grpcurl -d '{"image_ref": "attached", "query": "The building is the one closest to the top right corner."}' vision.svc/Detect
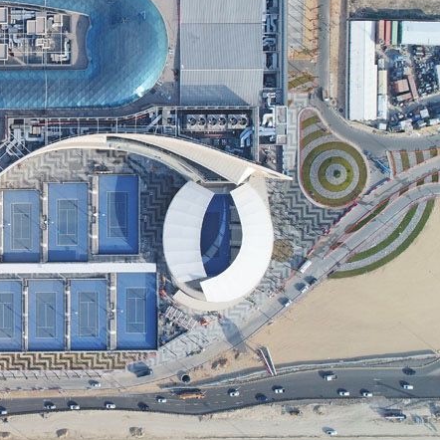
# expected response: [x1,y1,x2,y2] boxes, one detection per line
[398,21,440,45]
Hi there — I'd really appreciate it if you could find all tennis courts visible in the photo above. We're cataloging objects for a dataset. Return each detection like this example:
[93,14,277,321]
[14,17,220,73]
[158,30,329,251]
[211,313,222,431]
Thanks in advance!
[66,278,110,353]
[0,189,41,262]
[95,173,141,255]
[114,271,160,353]
[0,278,24,352]
[44,181,89,262]
[24,278,67,353]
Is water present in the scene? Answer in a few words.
No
